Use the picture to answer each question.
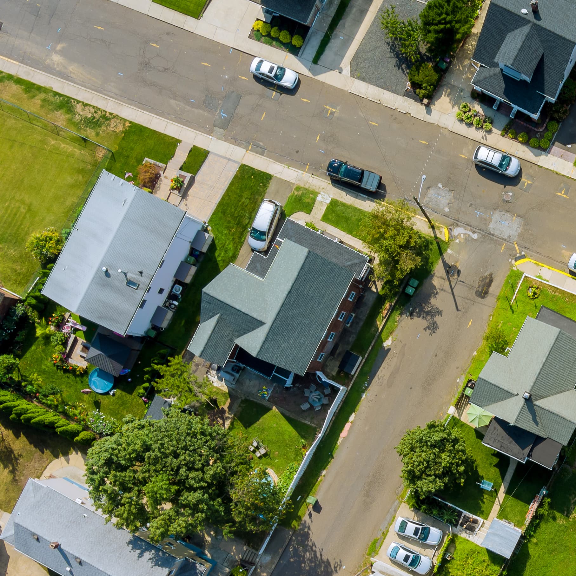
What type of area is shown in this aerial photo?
residential area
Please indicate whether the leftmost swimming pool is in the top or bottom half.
bottom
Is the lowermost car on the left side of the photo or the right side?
right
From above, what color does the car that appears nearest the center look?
white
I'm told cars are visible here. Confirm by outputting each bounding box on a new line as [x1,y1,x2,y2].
[248,57,301,89]
[384,540,434,572]
[471,145,521,179]
[392,515,444,546]
[566,253,576,275]
[246,196,284,251]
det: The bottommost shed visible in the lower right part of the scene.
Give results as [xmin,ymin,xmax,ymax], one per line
[481,516,521,558]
